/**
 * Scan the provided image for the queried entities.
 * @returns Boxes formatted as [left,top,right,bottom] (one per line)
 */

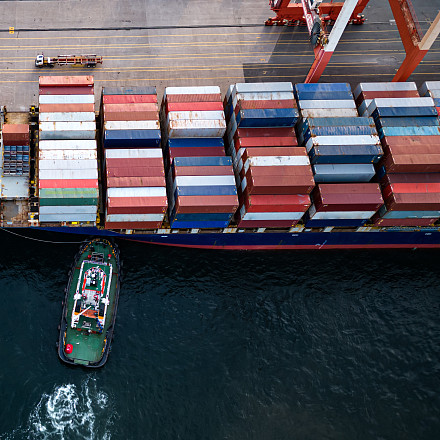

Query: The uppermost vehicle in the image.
[34,52,104,69]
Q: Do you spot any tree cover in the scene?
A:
No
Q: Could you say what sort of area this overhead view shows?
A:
port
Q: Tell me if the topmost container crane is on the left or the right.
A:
right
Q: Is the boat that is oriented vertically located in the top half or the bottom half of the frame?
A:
bottom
